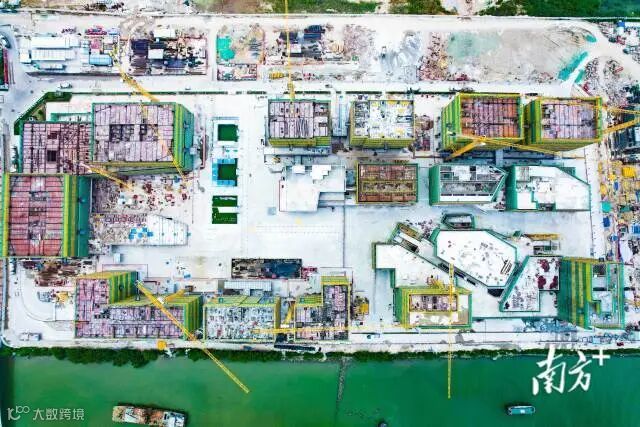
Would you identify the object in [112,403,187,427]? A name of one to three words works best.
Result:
ship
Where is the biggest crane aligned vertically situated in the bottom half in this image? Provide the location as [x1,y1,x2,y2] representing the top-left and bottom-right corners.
[436,263,458,399]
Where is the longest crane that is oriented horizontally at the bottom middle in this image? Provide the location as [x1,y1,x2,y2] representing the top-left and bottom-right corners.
[252,296,372,329]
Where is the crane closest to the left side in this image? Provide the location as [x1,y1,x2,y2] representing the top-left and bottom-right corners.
[74,166,138,194]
